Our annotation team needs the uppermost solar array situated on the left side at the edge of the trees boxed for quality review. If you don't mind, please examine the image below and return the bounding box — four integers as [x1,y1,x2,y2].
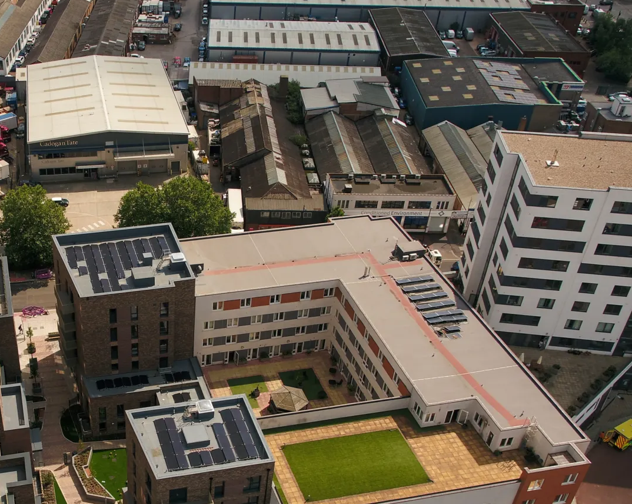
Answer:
[66,237,168,293]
